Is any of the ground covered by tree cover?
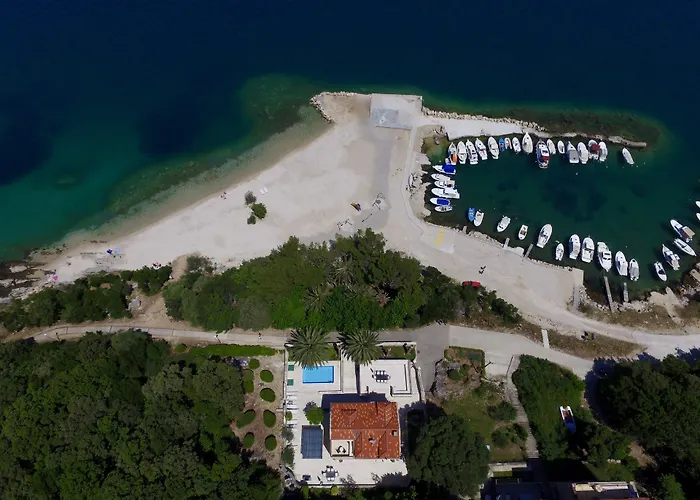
Yes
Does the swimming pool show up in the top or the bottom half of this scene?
bottom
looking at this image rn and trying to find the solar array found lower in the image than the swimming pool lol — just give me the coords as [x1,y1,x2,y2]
[300,424,323,458]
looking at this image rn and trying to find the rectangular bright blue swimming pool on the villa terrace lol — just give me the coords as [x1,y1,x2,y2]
[301,365,336,385]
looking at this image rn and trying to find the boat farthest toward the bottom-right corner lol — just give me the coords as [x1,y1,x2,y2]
[556,404,575,434]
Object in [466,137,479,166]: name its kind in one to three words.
boat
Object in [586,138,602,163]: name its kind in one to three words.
boat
